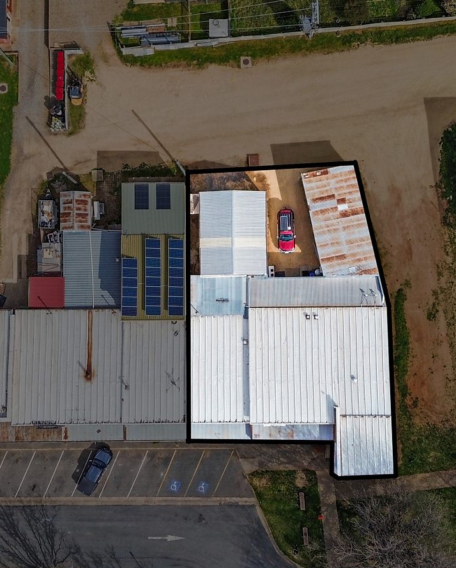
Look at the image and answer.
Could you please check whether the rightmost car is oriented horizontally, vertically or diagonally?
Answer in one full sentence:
What the image shows is the rightmost car lying vertically.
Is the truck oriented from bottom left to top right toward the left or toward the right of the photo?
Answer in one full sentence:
You can find the truck oriented from bottom left to top right on the left side of the picture.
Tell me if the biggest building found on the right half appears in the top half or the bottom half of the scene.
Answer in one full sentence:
The biggest building found on the right half sits in the bottom half of the picture.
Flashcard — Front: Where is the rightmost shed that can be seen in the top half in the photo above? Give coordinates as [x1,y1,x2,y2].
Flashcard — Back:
[299,165,381,276]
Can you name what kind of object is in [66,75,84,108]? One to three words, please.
work vehicle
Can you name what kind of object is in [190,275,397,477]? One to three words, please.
building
